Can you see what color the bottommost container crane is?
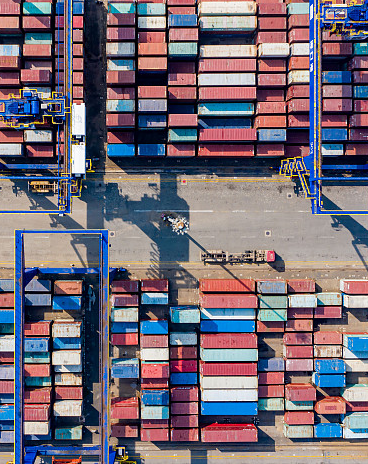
blue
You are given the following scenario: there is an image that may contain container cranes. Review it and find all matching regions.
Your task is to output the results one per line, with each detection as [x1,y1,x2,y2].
[0,0,99,216]
[12,230,132,464]
[266,0,368,215]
